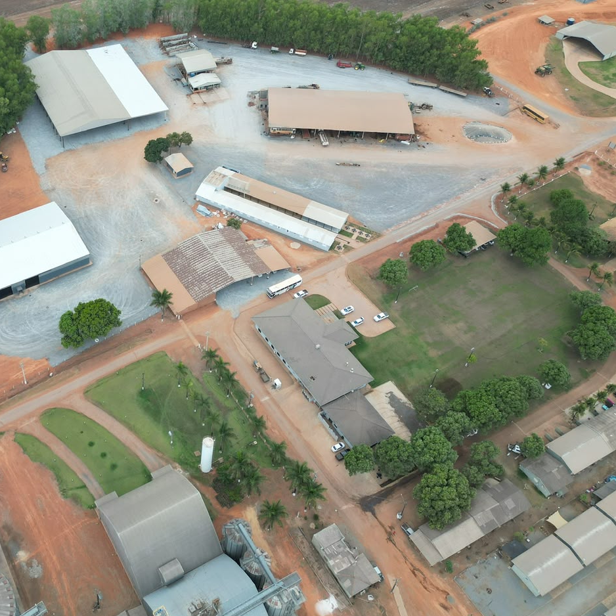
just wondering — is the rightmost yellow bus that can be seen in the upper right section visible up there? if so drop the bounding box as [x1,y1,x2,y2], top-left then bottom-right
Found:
[522,102,551,122]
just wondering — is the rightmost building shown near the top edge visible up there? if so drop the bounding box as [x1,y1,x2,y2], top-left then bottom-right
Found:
[554,22,616,65]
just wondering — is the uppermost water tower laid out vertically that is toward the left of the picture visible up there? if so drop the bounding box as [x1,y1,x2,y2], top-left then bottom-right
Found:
[199,434,218,476]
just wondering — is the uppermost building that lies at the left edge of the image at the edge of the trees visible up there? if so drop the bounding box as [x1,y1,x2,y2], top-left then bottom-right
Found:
[30,43,167,147]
